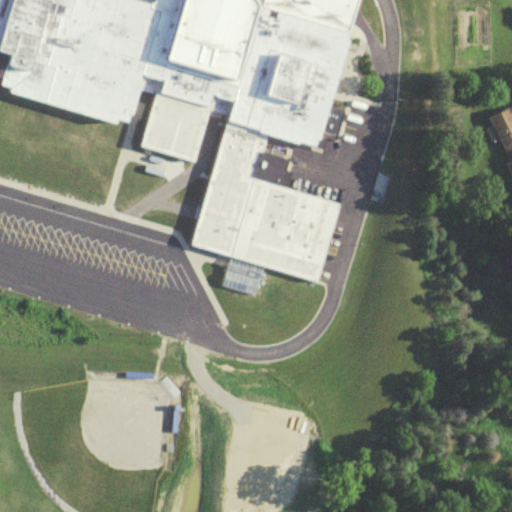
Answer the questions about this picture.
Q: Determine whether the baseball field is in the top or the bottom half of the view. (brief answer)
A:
bottom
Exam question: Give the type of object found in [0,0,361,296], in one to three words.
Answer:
building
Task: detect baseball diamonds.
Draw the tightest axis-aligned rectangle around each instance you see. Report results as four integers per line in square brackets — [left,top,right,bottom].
[14,370,177,512]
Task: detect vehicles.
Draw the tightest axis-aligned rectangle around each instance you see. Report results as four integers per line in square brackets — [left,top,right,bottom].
[332,188,340,201]
[316,184,324,196]
[304,180,311,192]
[343,134,358,143]
[324,186,332,199]
[262,160,268,170]
[292,178,298,190]
[346,114,364,124]
[310,182,318,194]
[296,178,304,190]
[338,190,346,202]
[351,101,370,110]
